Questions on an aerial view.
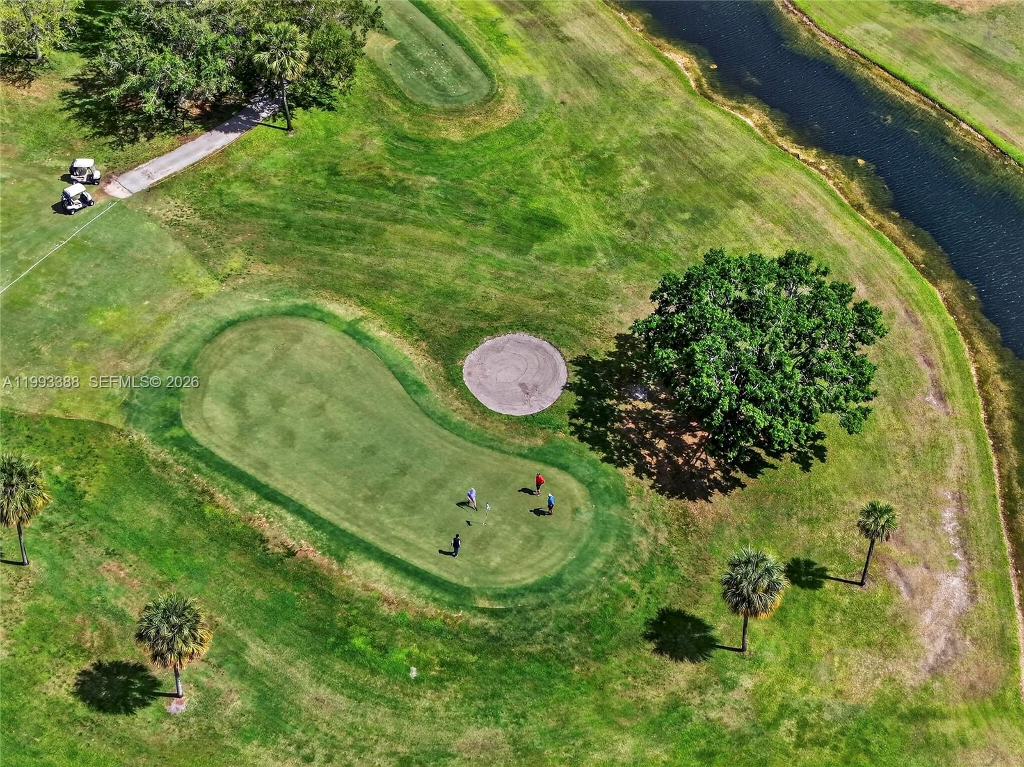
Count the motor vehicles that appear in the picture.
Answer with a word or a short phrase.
two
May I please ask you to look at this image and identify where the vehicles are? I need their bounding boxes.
[70,156,104,185]
[61,181,95,213]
